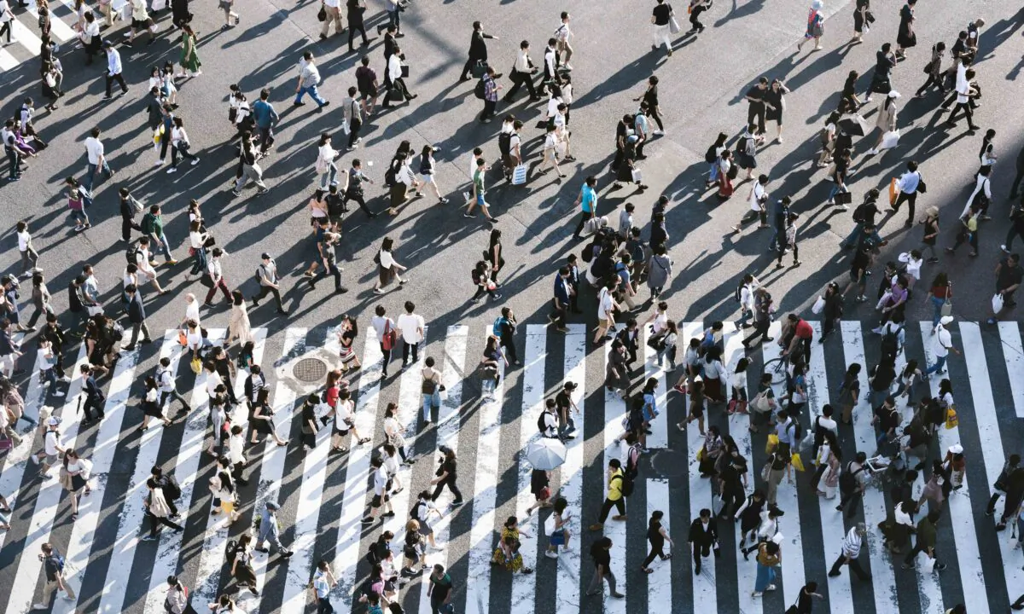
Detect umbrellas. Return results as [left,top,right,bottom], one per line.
[527,442,568,484]
[842,114,873,147]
